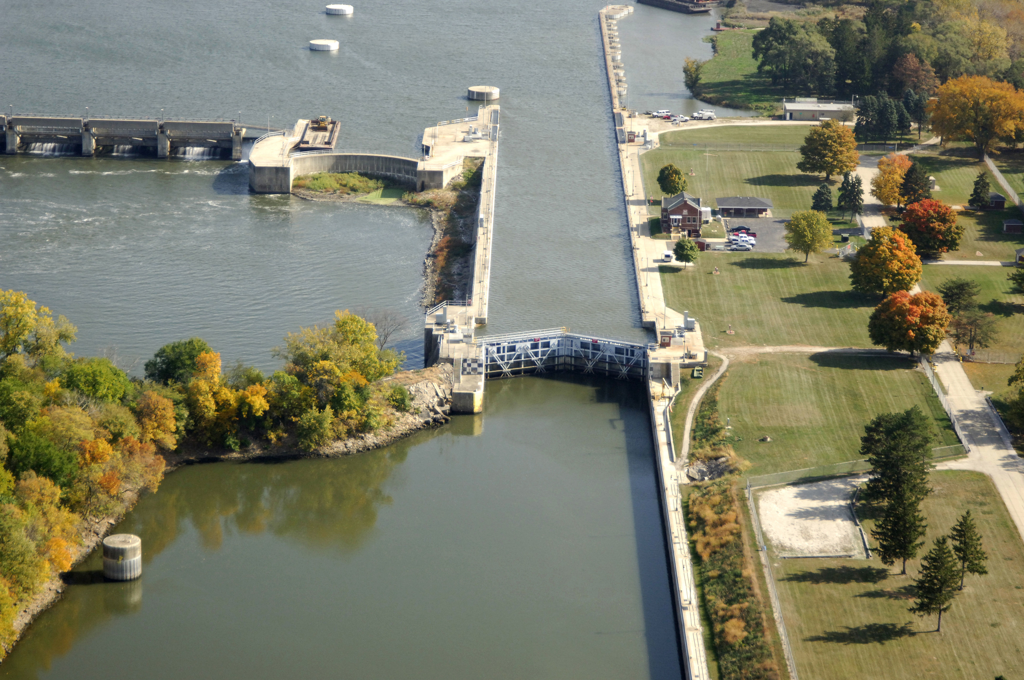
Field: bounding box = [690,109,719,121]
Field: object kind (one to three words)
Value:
vehicle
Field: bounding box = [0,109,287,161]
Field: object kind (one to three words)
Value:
dam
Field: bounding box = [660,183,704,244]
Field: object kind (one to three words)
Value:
house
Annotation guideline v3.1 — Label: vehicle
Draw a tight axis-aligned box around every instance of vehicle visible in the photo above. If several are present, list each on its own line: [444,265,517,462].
[670,114,690,122]
[732,237,756,247]
[690,109,719,121]
[731,243,752,251]
[315,113,327,129]
[652,110,670,118]
[733,228,757,237]
[730,232,754,241]
[730,225,751,231]
[660,112,677,120]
